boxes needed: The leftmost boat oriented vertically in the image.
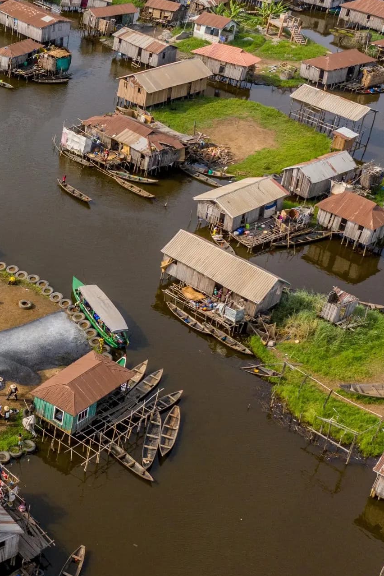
[140,410,161,469]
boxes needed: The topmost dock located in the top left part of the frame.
[11,64,55,87]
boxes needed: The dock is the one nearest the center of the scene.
[161,282,251,344]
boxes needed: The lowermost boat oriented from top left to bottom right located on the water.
[101,438,155,482]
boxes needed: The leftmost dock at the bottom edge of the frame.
[0,497,53,567]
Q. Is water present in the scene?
Yes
